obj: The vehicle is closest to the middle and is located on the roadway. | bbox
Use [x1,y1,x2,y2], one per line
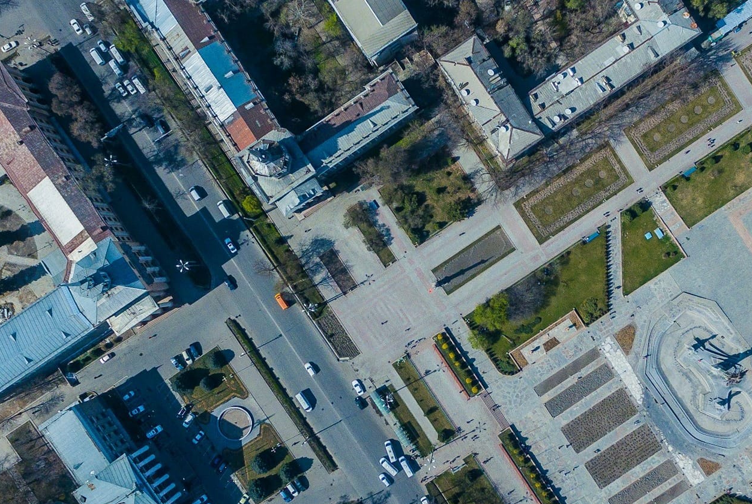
[274,293,289,311]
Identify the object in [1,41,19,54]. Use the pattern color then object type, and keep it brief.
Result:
white vehicle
